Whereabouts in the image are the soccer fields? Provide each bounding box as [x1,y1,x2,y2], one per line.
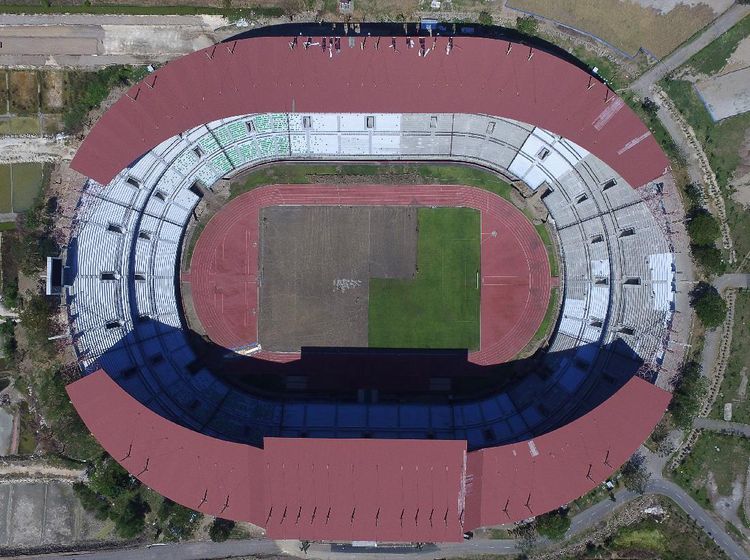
[259,206,480,353]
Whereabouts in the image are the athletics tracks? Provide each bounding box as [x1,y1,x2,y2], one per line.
[179,184,561,371]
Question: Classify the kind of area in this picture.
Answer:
sports ground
